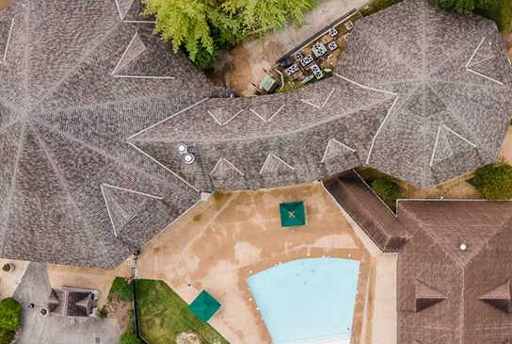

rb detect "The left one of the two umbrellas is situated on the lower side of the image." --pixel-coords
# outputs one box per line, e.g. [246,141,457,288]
[188,289,222,323]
